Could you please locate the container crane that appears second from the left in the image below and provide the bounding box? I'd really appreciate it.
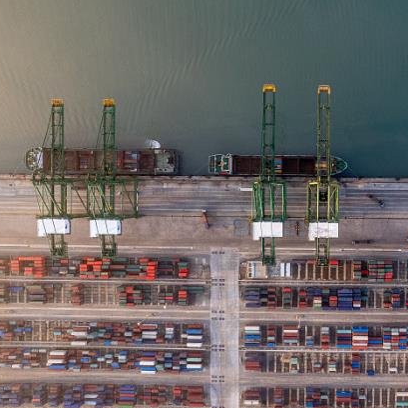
[84,87,149,258]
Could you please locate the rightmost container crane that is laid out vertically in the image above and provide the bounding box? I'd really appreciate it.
[303,85,342,266]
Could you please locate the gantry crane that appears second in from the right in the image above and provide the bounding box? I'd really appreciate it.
[251,84,293,266]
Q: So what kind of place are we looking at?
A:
port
